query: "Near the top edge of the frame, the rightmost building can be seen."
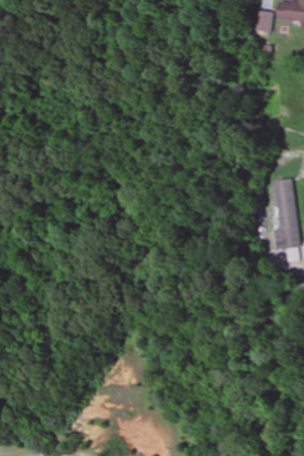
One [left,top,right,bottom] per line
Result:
[275,0,304,24]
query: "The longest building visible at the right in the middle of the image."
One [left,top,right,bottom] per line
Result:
[272,178,298,246]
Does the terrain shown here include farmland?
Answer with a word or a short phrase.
No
